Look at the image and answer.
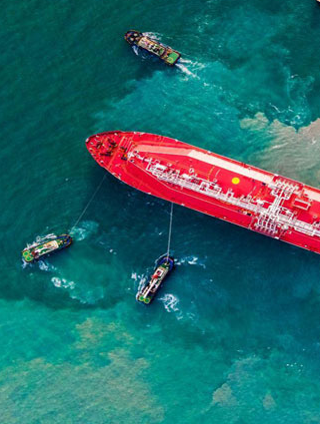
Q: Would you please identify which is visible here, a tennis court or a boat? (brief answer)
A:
boat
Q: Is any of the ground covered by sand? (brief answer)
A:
No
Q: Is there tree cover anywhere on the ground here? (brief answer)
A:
No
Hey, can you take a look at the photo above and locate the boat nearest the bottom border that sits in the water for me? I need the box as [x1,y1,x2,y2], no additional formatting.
[138,255,172,303]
